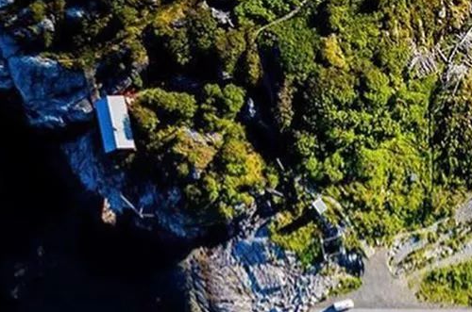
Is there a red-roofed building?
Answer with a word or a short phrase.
No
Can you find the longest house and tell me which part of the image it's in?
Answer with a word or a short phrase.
left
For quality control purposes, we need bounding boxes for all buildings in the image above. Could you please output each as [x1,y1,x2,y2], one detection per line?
[95,97,135,160]
[312,197,327,216]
